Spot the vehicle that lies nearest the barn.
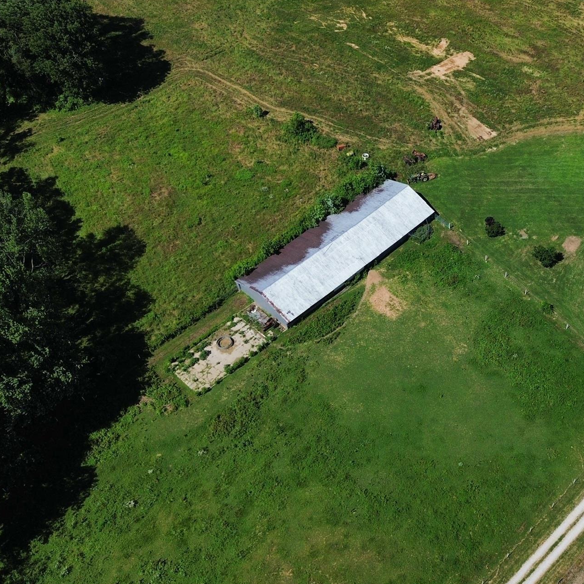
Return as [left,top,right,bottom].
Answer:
[407,169,427,184]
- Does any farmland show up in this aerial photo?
Yes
